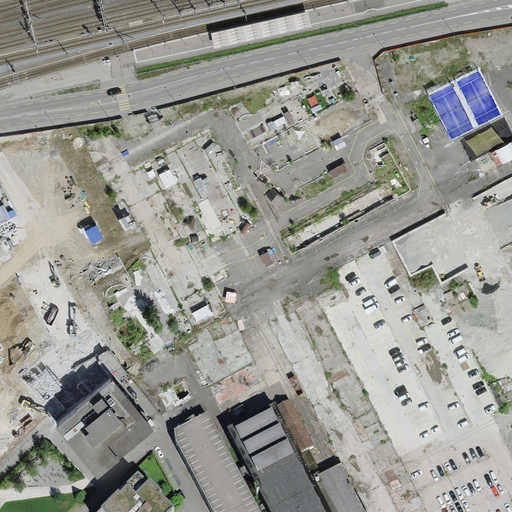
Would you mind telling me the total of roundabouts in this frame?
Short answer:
zero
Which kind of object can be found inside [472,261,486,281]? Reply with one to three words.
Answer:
vehicle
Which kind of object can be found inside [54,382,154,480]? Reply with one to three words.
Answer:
building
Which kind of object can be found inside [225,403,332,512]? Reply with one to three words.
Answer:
building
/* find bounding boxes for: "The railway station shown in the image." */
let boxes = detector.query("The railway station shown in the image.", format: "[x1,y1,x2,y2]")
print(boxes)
[134,0,420,62]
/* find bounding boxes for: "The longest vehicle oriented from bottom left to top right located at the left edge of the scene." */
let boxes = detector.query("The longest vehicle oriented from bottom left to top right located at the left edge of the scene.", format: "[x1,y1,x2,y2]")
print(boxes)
[12,340,34,364]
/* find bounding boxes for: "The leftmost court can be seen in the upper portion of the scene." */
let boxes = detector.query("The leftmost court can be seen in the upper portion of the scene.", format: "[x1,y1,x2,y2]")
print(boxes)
[428,84,476,140]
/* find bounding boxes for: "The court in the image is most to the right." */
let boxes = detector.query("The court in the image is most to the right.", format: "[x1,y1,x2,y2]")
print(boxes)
[456,70,502,128]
